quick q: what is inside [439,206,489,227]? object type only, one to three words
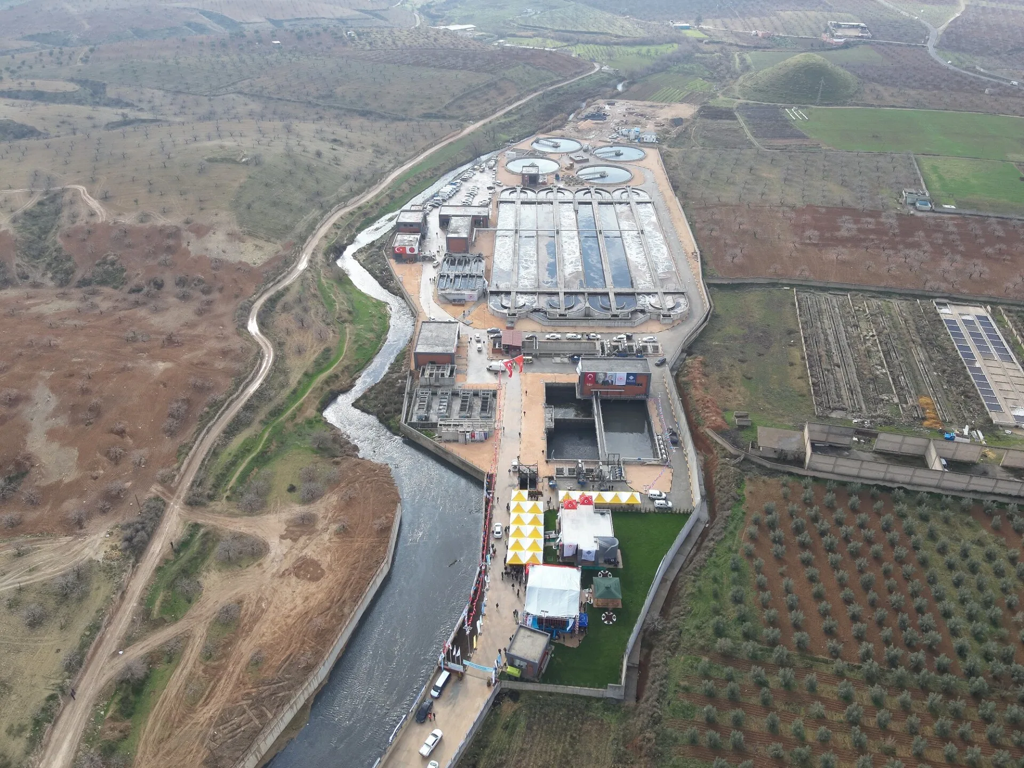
building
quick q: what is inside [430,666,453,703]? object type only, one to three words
vehicle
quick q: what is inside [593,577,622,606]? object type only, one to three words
gazebo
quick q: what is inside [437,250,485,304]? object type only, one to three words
storage tank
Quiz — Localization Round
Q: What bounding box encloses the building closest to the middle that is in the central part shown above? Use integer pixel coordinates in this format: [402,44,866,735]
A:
[501,330,526,357]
